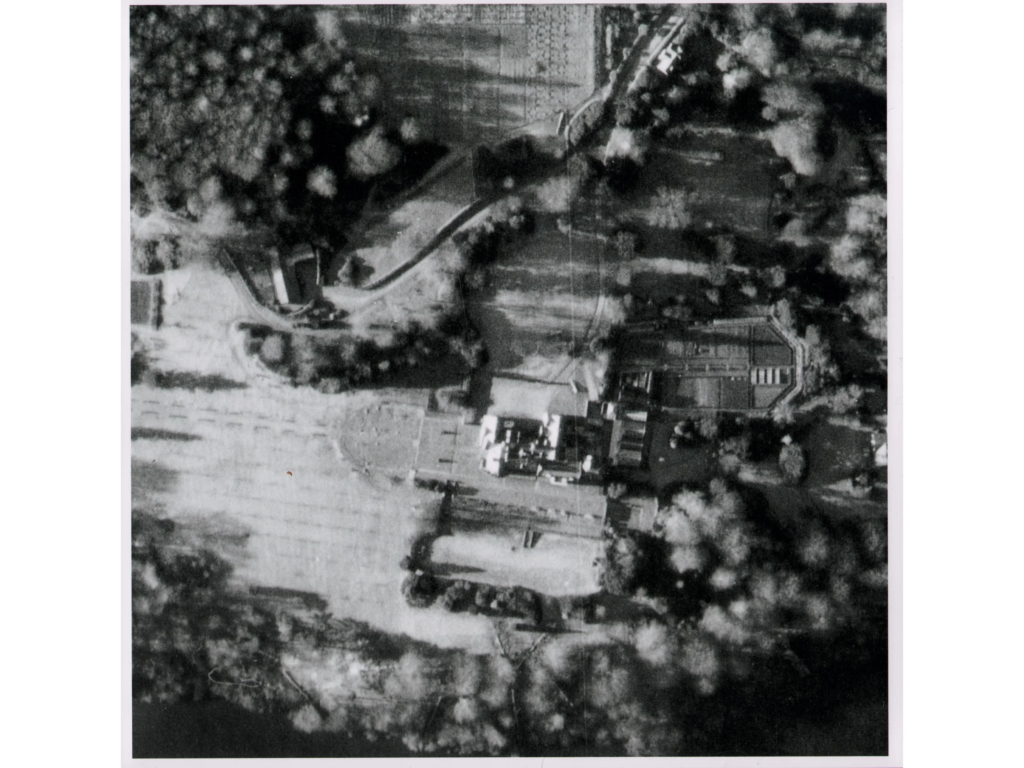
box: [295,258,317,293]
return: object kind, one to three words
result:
shed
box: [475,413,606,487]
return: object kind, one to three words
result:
house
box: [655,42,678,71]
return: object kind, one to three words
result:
house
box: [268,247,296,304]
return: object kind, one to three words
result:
barn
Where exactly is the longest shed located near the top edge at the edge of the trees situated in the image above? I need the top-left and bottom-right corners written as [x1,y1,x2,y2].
[647,16,685,63]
